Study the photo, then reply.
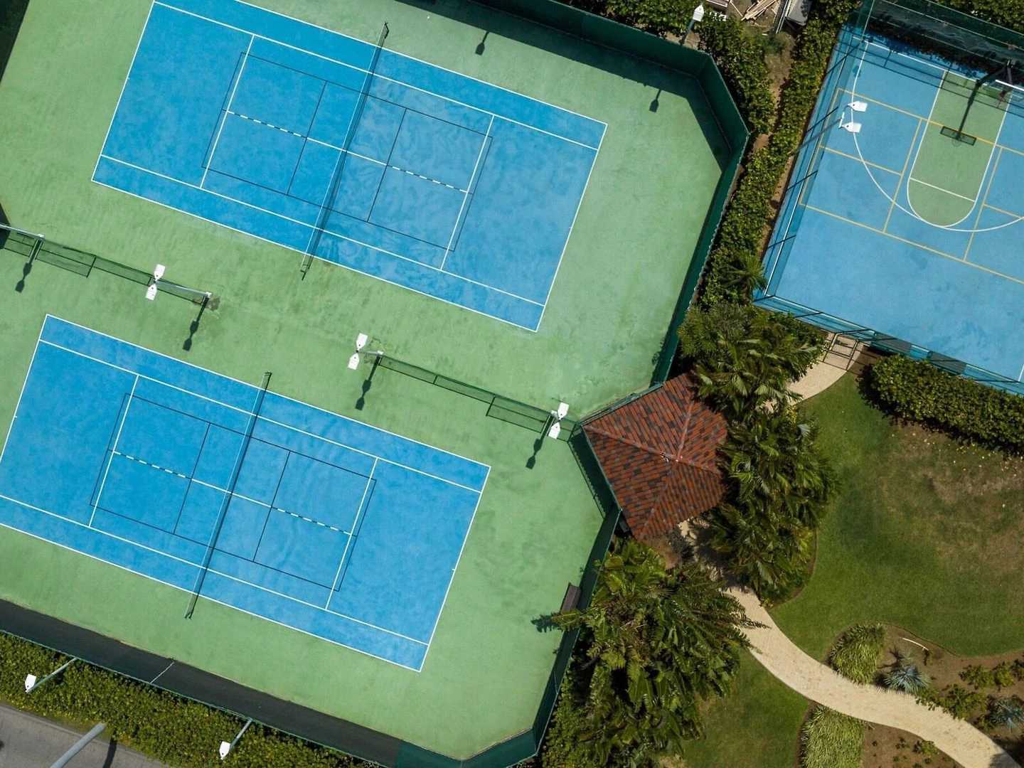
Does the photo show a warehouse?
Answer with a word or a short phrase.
No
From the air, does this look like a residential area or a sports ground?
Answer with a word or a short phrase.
sports ground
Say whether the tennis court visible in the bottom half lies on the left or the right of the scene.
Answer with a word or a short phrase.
left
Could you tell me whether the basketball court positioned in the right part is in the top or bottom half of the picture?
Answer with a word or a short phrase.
top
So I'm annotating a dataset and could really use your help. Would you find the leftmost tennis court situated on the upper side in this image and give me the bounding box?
[92,0,607,332]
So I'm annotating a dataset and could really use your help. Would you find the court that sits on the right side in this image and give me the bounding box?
[747,20,1024,400]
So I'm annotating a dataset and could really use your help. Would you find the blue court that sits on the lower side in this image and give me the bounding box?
[0,314,490,672]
